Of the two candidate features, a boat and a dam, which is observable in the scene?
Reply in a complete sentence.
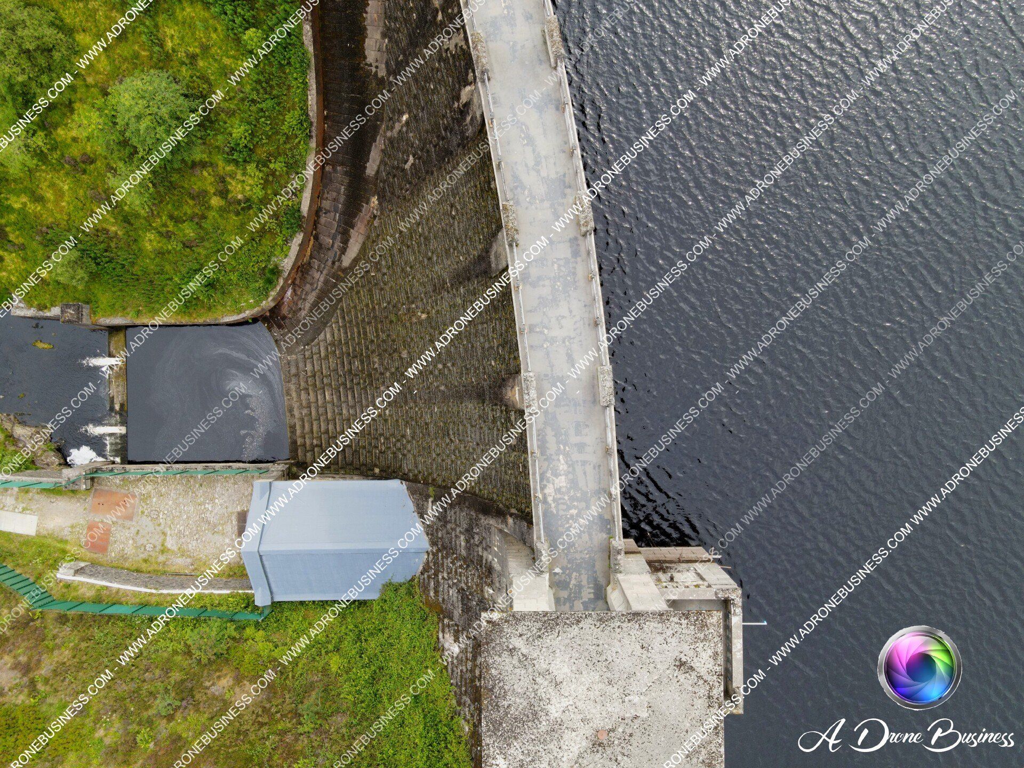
Looking from above, you can make out a dam.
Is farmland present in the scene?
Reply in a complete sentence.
No, there is no farmland in the image.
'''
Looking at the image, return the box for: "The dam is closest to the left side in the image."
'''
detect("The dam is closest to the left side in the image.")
[110,325,130,461]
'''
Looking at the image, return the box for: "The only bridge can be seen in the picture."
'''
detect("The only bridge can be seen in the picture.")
[460,0,648,610]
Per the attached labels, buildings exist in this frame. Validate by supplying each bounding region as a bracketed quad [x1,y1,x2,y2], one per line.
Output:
[239,474,429,606]
[482,537,744,768]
